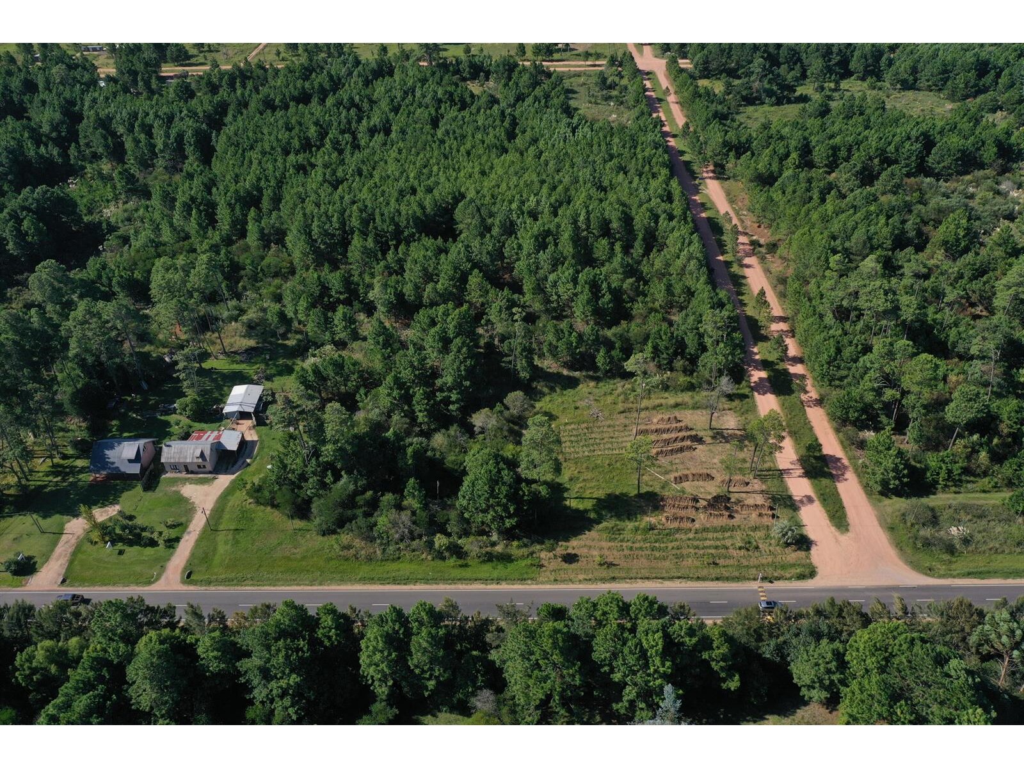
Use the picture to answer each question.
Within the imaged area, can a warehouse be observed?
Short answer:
No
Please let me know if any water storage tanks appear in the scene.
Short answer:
No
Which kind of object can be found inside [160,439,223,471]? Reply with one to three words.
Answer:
house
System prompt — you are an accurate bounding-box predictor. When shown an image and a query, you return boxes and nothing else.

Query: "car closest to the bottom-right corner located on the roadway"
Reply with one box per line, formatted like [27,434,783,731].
[755,600,783,613]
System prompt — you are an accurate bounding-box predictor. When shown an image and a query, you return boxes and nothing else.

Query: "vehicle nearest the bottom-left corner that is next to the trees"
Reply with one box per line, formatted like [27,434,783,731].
[53,593,87,607]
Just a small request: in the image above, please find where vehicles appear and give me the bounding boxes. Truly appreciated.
[755,600,783,613]
[53,593,87,607]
